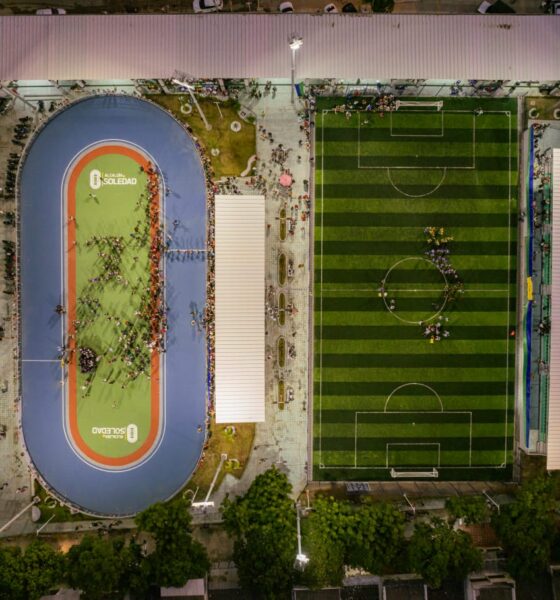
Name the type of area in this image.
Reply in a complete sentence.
This image shows a sports ground.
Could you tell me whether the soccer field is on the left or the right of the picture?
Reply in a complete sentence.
It is on the right.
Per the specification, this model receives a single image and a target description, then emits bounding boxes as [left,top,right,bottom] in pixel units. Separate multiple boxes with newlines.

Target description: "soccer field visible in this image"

[311,96,519,482]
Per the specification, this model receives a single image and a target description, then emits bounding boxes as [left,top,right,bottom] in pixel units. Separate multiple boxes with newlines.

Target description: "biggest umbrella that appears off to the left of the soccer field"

[279,173,293,186]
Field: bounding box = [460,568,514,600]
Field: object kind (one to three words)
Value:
house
